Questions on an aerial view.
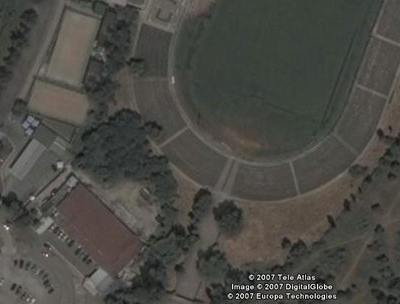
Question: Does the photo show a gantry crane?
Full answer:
No, there is no gantry crane in the image.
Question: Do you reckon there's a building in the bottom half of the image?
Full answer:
Yes, looking in the bottom half of the image, one can make out a building.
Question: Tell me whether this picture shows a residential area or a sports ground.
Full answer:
It's a sports ground.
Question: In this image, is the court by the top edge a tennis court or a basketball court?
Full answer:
I'd identify the court by the top edge as a tennis court.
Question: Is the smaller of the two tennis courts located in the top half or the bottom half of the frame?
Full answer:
You can find the smaller of the two tennis courts in the top half.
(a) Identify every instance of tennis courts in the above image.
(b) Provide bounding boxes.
[47,9,98,87]
[27,80,88,125]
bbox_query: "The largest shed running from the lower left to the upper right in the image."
[9,138,47,179]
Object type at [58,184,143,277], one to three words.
building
